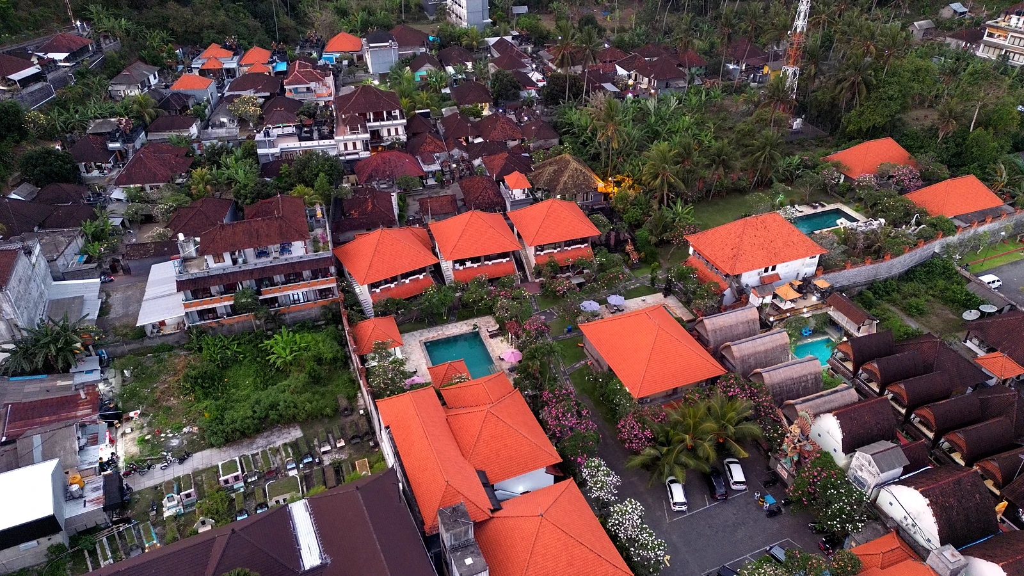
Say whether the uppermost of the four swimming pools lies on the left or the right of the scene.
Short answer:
right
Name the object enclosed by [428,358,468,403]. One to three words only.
building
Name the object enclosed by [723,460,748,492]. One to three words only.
car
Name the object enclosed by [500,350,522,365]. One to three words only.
umbrella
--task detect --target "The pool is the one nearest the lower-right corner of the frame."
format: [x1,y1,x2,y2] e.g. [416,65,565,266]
[789,330,845,368]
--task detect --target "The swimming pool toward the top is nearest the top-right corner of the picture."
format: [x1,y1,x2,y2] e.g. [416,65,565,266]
[789,203,868,237]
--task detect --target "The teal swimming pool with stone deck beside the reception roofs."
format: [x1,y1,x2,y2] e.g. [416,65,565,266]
[400,314,526,406]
